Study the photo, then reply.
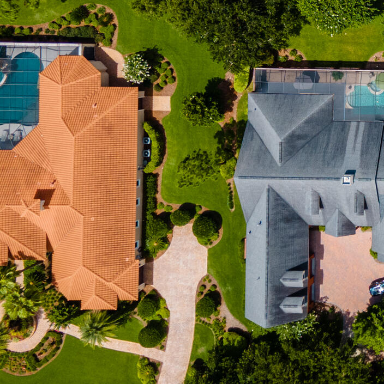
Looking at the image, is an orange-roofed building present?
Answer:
Yes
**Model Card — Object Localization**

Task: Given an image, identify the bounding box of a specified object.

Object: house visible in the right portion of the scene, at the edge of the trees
[233,92,384,327]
